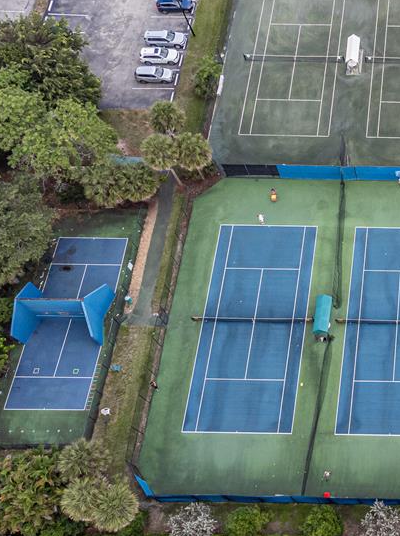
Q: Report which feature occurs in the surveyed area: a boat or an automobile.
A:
automobile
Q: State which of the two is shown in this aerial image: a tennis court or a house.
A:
tennis court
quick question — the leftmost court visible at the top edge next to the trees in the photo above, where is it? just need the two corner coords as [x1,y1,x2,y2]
[239,0,345,136]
